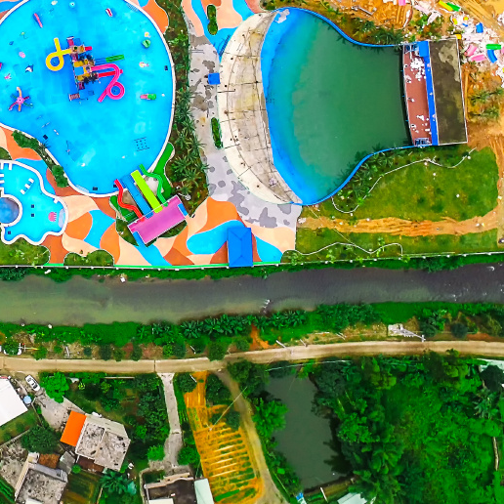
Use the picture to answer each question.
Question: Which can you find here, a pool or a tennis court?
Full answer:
The image shows a pool.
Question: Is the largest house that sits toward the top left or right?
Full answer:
The largest house that sits toward the top appears in the right half of the scene.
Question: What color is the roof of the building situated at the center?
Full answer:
The roof over the building situated at the center appears blue.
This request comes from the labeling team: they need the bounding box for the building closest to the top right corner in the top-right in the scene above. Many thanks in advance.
[403,38,468,145]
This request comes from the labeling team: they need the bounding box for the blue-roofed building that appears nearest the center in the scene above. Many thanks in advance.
[226,227,253,267]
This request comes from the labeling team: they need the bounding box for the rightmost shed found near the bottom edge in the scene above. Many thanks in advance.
[333,486,369,504]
